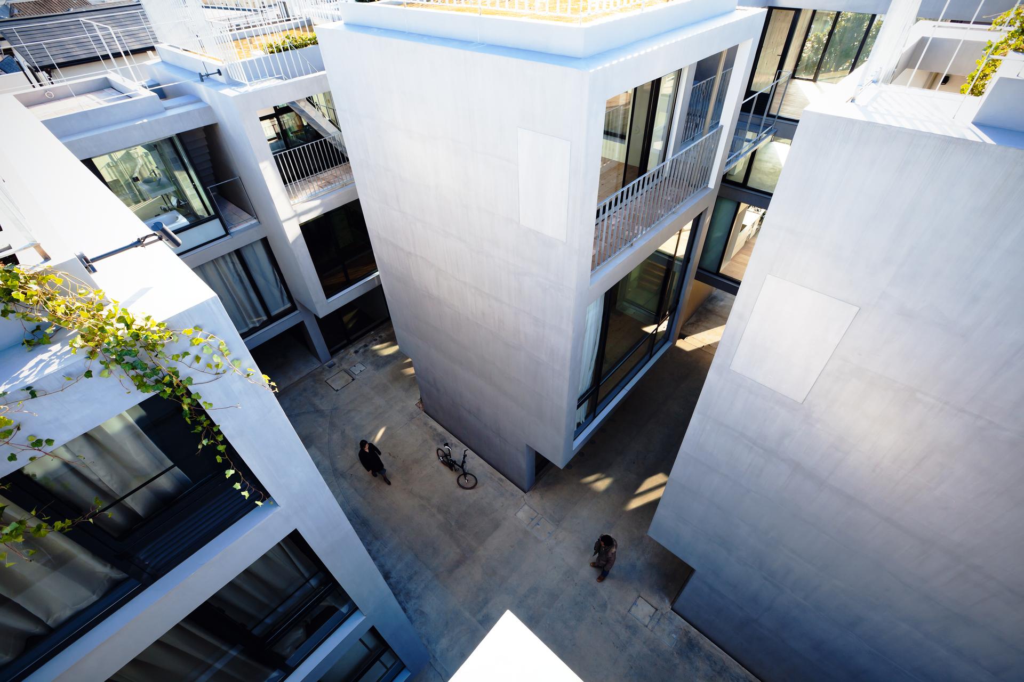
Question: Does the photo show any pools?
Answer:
No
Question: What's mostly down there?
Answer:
buildings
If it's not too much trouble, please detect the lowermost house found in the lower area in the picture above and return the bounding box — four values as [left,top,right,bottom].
[451,613,578,682]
